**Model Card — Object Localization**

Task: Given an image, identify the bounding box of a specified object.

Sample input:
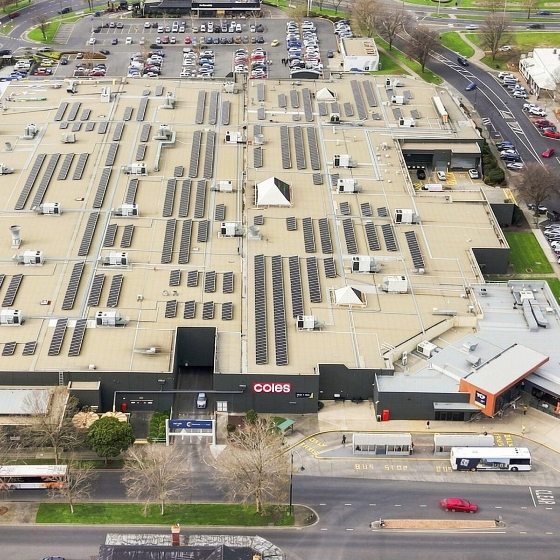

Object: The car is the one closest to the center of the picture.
[194,387,208,411]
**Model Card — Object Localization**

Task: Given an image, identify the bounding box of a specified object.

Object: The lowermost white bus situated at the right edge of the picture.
[449,443,533,471]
